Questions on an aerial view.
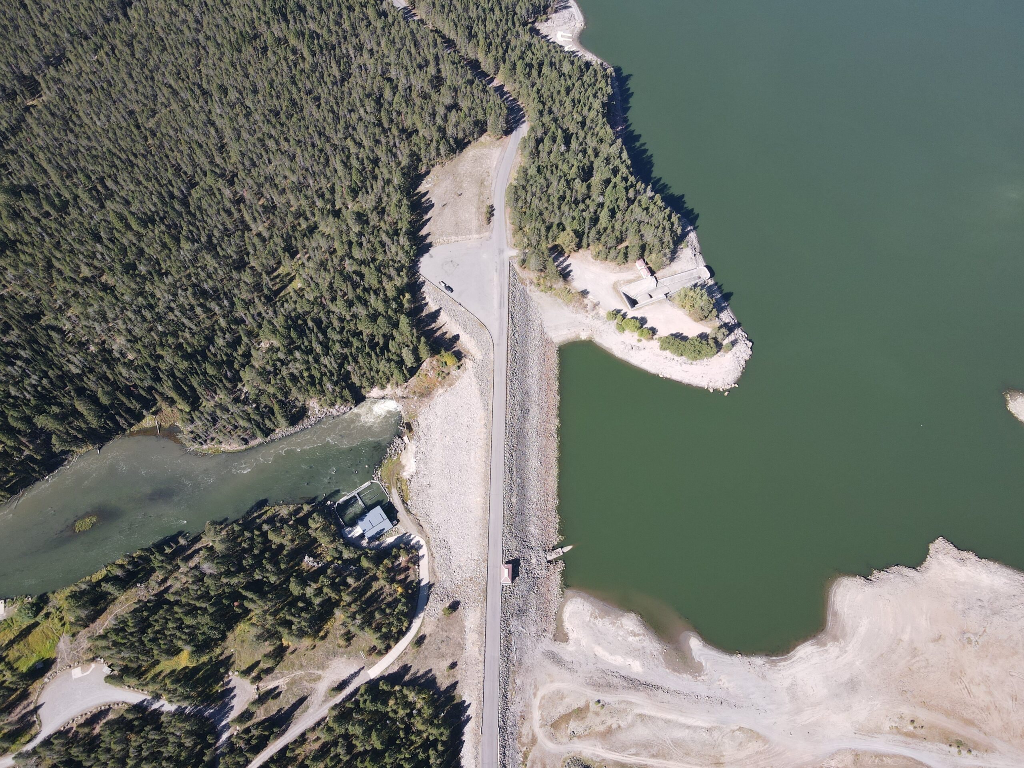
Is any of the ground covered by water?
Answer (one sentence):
Yes, the picture does contain water.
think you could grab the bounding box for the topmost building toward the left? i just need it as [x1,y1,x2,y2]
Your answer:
[357,507,392,543]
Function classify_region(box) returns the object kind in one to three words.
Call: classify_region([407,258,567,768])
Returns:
dam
